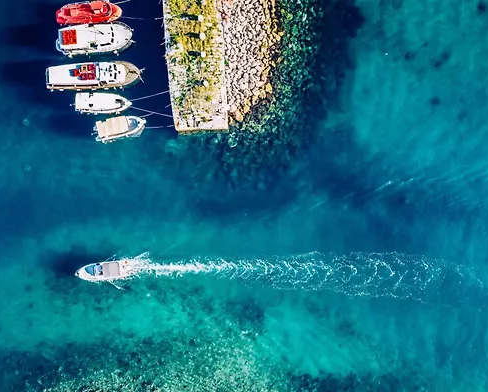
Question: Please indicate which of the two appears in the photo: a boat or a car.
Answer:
boat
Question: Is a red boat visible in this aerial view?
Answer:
Yes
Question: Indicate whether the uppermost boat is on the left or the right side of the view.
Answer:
left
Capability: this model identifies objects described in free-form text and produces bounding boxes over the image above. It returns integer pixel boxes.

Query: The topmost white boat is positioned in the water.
[55,19,137,58]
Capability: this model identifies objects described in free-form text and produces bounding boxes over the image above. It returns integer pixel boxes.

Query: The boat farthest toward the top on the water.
[56,0,124,26]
